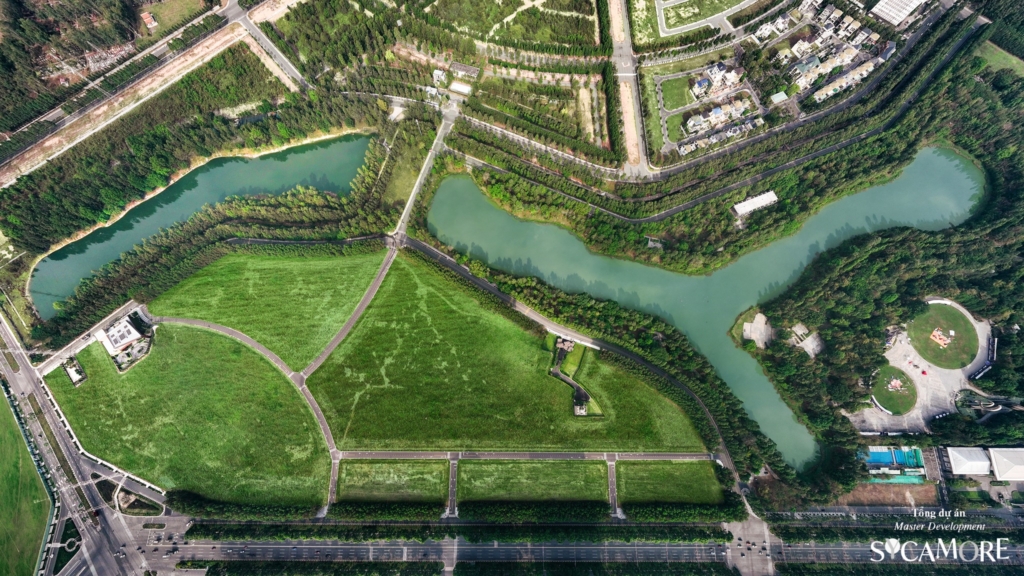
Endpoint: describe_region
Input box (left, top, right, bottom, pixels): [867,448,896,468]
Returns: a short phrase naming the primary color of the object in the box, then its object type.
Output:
blue swimming pool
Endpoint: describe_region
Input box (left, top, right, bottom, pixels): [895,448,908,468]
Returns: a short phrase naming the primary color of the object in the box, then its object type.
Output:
blue swimming pool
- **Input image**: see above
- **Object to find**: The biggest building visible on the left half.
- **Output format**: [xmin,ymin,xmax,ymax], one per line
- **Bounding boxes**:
[95,321,142,350]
